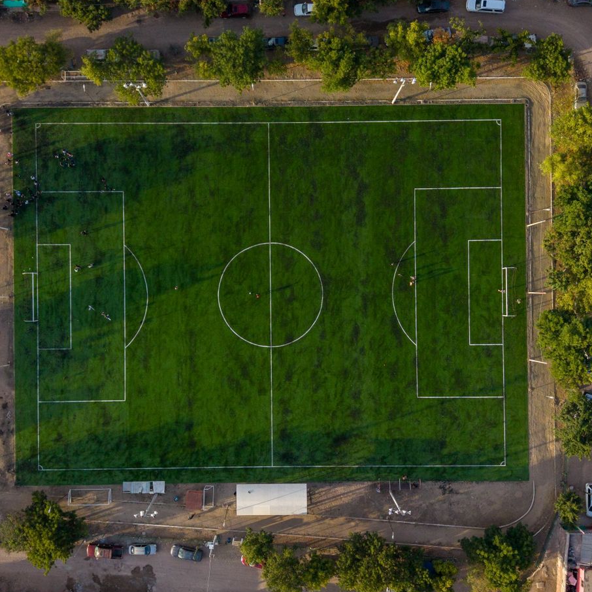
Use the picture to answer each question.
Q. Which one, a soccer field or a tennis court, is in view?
soccer field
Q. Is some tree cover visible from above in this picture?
Yes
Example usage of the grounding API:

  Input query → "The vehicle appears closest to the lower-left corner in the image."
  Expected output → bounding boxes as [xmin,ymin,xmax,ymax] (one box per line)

[87,543,124,558]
